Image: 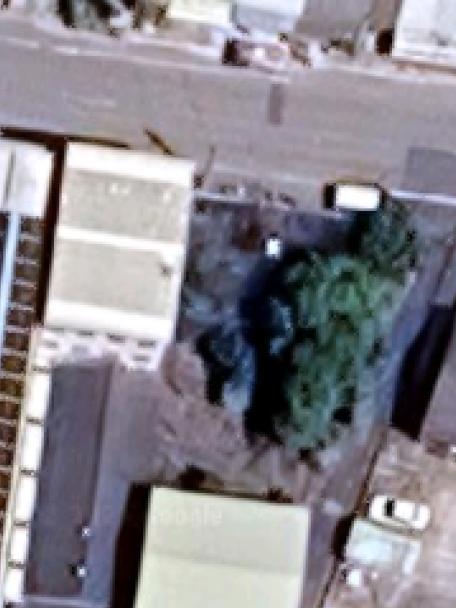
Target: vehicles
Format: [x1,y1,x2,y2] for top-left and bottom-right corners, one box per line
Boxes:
[222,39,292,70]
[322,180,384,212]
[367,496,433,532]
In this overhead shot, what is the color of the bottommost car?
white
